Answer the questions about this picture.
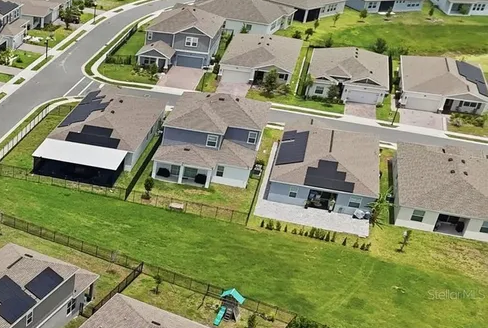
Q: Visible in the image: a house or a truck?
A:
house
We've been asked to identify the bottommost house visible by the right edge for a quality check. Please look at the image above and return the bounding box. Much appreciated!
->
[390,143,488,241]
